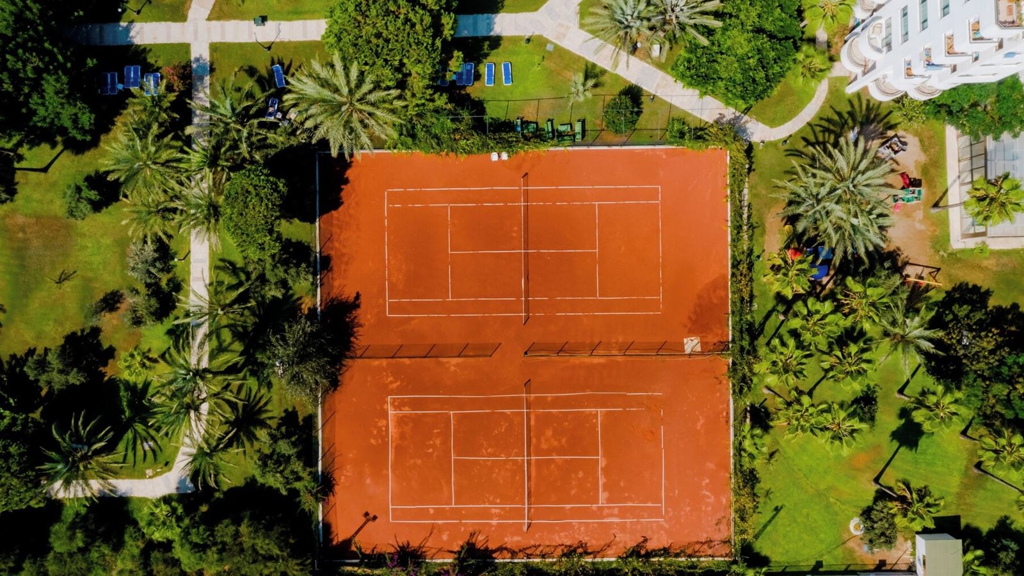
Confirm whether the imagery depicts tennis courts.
Yes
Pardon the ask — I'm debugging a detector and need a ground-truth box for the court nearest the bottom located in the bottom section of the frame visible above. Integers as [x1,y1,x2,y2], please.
[321,354,732,560]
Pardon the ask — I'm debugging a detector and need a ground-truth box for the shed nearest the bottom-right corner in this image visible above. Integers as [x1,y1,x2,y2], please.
[915,534,963,576]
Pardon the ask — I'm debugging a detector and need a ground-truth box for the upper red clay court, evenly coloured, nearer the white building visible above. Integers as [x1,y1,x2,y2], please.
[319,149,730,356]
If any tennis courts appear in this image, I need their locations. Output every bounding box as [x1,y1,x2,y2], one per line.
[319,149,730,356]
[321,354,732,560]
